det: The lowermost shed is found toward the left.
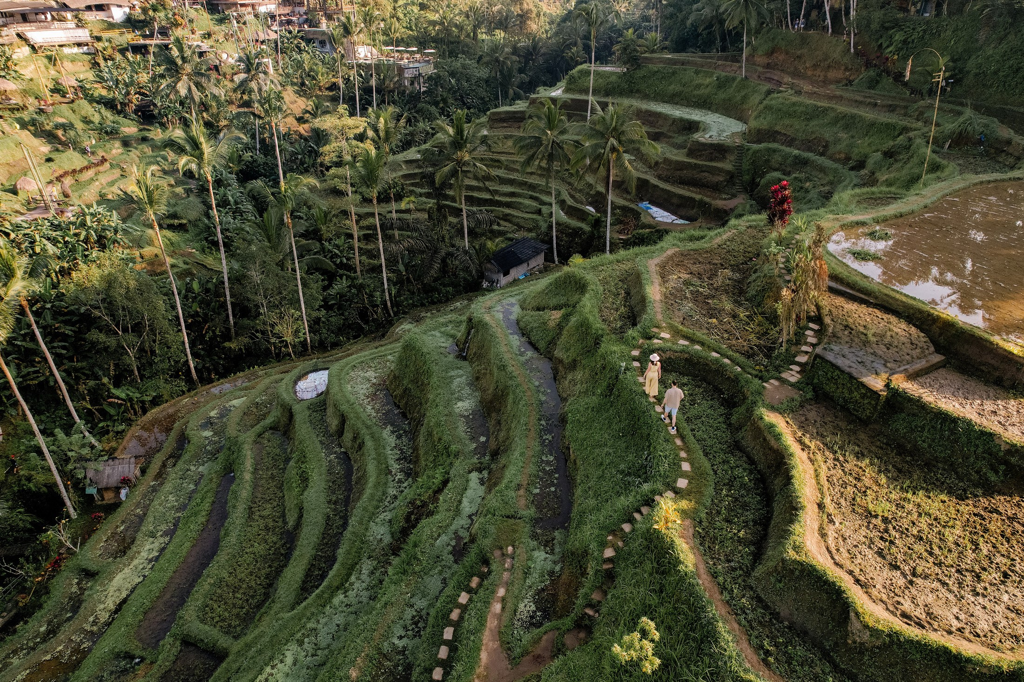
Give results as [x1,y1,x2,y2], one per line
[83,457,140,504]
